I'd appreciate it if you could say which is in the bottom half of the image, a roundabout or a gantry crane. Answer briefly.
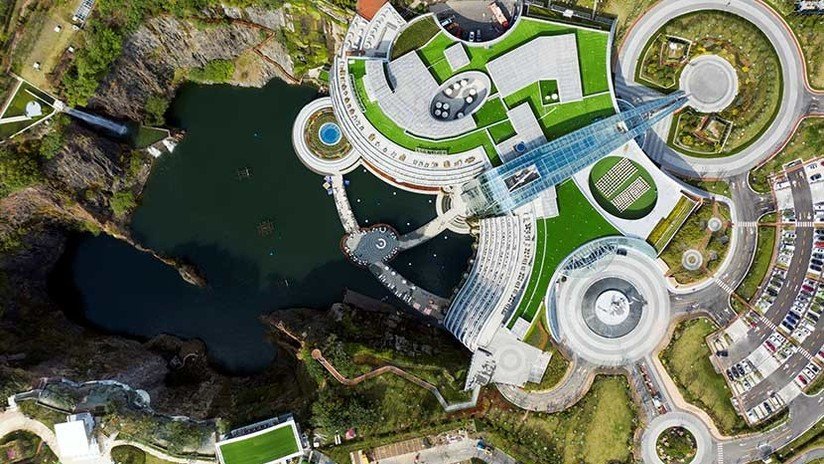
roundabout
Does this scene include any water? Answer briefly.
Yes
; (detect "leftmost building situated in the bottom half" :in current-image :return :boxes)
[55,411,105,464]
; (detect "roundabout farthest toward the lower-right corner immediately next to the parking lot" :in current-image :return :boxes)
[637,410,712,464]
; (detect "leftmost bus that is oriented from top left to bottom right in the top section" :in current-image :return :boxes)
[488,0,512,27]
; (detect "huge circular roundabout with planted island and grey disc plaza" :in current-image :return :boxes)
[613,0,807,177]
